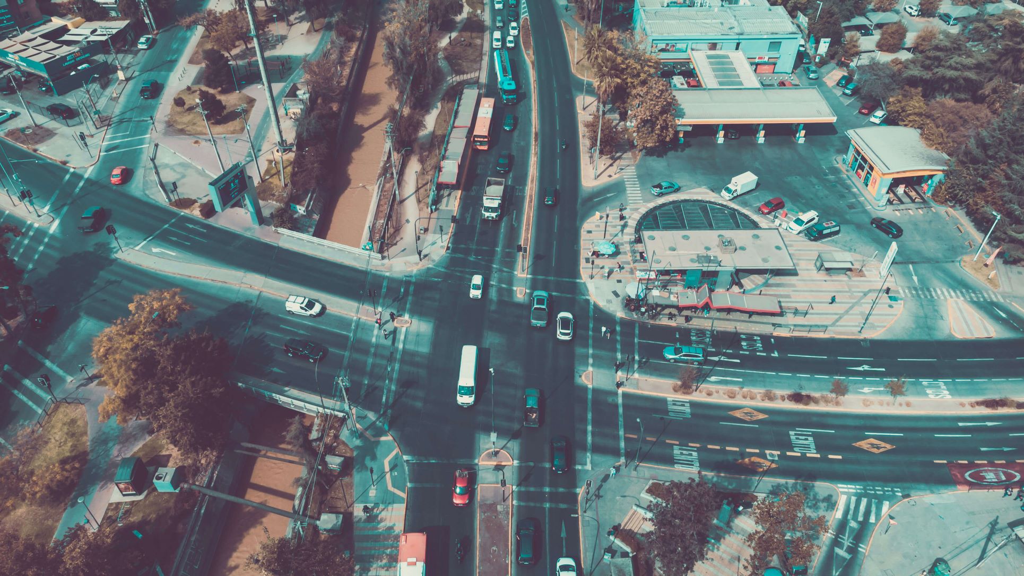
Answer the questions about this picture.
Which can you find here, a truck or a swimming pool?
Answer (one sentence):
Looking from above, you can make out a truck.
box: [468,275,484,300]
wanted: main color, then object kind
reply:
white car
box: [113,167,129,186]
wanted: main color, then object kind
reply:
red car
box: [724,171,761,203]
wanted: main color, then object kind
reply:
white truck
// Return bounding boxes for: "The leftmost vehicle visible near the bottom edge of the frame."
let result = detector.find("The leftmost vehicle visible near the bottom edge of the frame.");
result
[398,530,429,576]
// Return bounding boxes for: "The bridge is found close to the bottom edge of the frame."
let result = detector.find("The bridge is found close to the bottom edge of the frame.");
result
[0,362,408,576]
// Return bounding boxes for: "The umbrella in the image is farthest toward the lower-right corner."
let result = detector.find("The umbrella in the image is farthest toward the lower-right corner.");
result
[621,283,644,299]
